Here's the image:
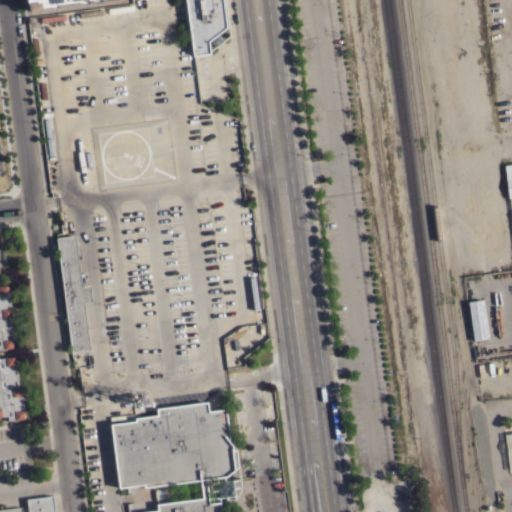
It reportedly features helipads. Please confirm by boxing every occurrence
[92,119,176,191]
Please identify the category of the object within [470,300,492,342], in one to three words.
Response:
building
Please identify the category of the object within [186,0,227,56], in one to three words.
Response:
building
